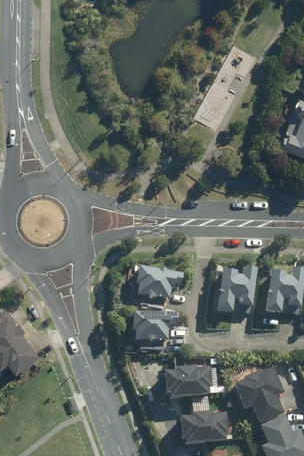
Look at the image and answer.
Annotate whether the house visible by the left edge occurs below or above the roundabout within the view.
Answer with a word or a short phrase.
below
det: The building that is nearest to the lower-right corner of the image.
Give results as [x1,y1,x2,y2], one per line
[260,414,304,456]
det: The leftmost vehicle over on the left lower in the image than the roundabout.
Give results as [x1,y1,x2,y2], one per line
[28,303,40,320]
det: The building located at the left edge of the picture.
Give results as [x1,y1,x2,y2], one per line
[0,310,45,374]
